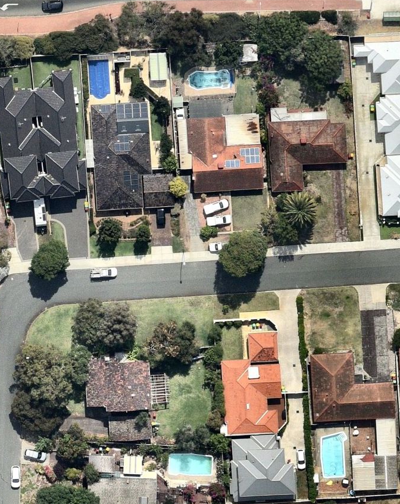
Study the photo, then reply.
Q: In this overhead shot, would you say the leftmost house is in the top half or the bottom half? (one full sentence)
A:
The leftmost house sits in the top half of the picture.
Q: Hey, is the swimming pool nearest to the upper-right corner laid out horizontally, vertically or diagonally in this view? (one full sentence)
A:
In this picture, the swimming pool nearest to the upper-right corner lies horizontally.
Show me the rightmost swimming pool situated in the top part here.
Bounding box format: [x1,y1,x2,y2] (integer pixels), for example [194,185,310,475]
[189,69,234,91]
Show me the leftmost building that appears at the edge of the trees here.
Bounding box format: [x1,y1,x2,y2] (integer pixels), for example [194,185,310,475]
[0,70,87,203]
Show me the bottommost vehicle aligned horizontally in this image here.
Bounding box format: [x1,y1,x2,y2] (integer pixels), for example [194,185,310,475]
[23,449,46,462]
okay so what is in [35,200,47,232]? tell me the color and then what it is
white vehicle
